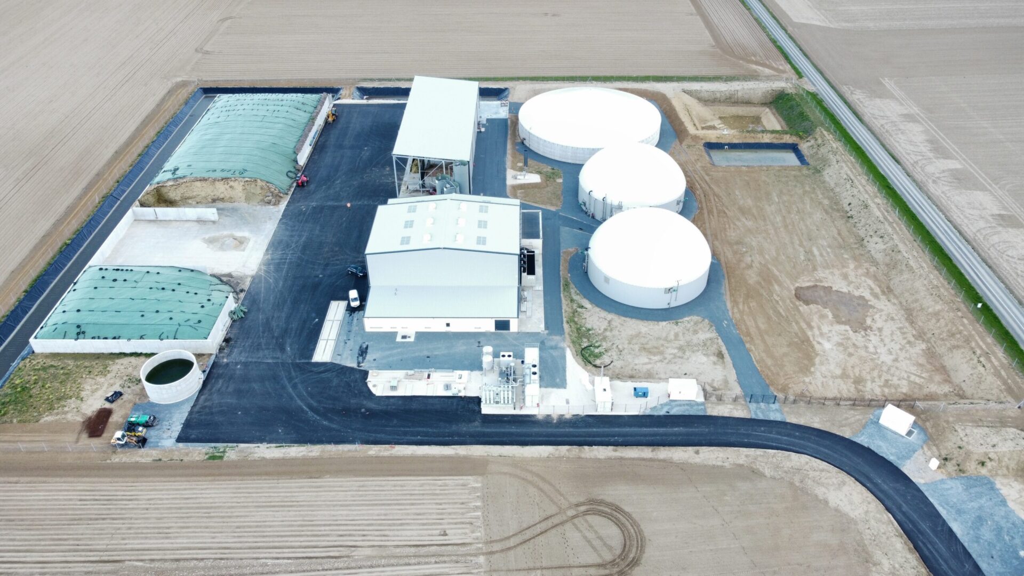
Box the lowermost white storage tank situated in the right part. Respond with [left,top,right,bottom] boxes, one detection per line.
[584,207,712,309]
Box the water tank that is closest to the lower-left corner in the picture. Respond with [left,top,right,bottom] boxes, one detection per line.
[139,349,204,405]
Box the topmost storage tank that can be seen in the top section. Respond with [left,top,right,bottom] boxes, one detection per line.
[518,87,662,164]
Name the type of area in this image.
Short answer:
industrial area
